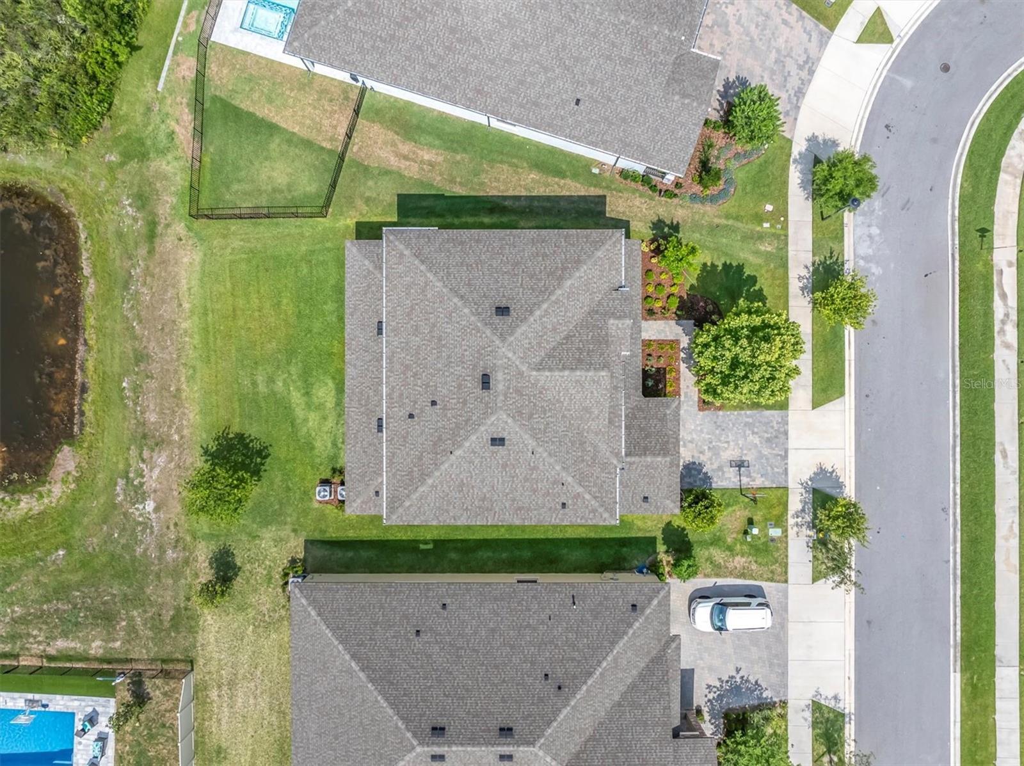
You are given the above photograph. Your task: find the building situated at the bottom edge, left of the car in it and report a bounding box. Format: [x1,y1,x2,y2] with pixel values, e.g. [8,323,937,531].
[288,573,717,766]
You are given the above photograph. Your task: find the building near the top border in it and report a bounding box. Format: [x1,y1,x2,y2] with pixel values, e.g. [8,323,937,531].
[283,0,719,181]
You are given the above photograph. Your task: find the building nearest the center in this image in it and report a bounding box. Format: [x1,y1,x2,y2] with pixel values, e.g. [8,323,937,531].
[344,226,681,526]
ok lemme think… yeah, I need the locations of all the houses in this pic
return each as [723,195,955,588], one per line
[283,0,719,181]
[344,226,681,526]
[288,573,717,766]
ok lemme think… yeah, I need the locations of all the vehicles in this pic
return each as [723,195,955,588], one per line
[690,596,770,635]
